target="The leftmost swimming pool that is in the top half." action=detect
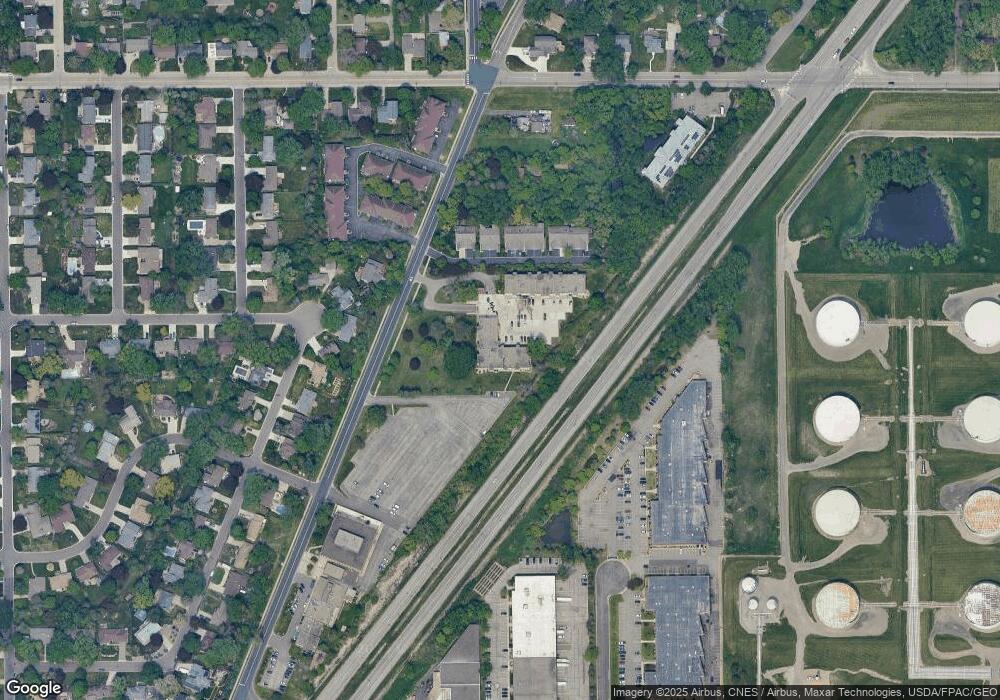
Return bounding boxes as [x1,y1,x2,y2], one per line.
[66,257,79,274]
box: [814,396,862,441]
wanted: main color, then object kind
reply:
white storage tank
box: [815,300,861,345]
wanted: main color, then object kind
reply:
white storage tank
